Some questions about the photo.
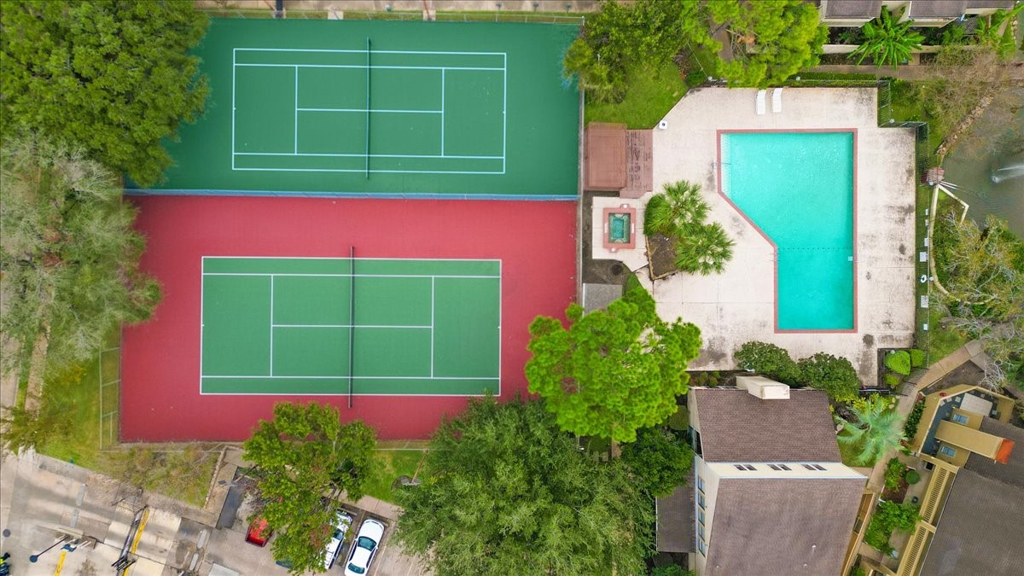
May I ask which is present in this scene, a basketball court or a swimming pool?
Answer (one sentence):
Of the two, only a swimming pool appears.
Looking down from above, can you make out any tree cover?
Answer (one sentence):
Yes, there is tree cover in the image.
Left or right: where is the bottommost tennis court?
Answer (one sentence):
The bottommost tennis court sits on the left side.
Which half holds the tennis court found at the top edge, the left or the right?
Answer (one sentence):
The tennis court found at the top edge sits on the left side.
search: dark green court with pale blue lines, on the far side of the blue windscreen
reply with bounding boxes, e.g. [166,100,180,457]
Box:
[120,16,582,196]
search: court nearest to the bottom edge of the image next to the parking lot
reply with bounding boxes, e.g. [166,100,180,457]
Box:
[120,195,583,442]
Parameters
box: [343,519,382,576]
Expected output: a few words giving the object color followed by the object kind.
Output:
white car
